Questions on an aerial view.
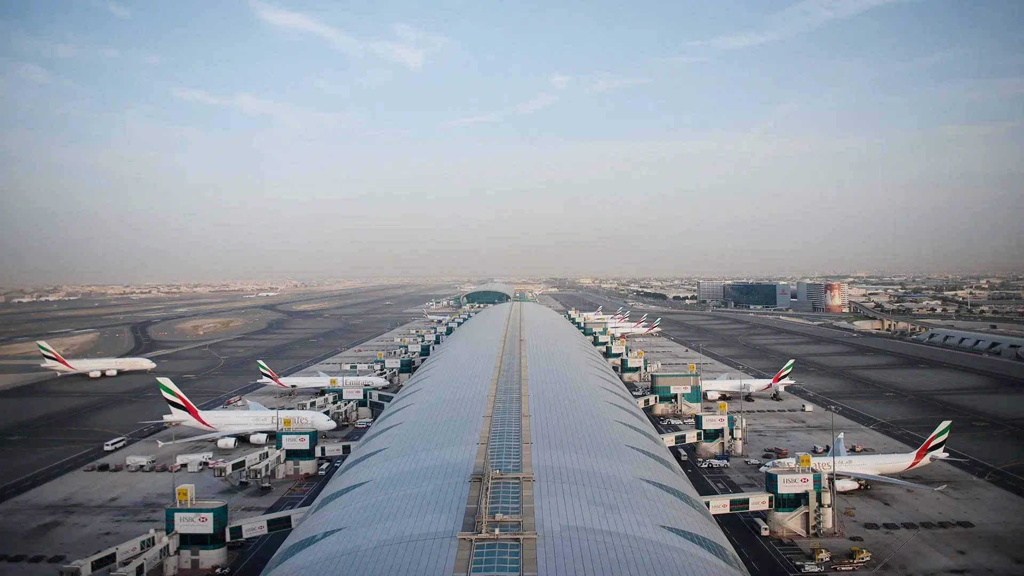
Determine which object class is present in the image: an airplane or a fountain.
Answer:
airplane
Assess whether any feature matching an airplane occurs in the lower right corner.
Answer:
Yes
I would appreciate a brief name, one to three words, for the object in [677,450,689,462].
vehicle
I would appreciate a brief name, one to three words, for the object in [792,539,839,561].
work vehicle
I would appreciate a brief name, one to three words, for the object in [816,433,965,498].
airplane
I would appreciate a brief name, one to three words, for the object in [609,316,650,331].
airplane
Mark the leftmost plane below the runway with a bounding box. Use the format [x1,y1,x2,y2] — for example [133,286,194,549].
[29,338,159,380]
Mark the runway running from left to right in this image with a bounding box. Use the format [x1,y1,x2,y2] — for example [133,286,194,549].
[0,286,446,340]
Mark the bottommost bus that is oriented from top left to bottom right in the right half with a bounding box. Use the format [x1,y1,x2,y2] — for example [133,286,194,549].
[751,518,773,540]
